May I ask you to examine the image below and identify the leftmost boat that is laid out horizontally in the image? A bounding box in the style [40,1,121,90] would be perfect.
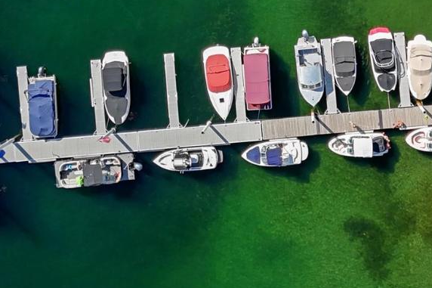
[55,152,144,186]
